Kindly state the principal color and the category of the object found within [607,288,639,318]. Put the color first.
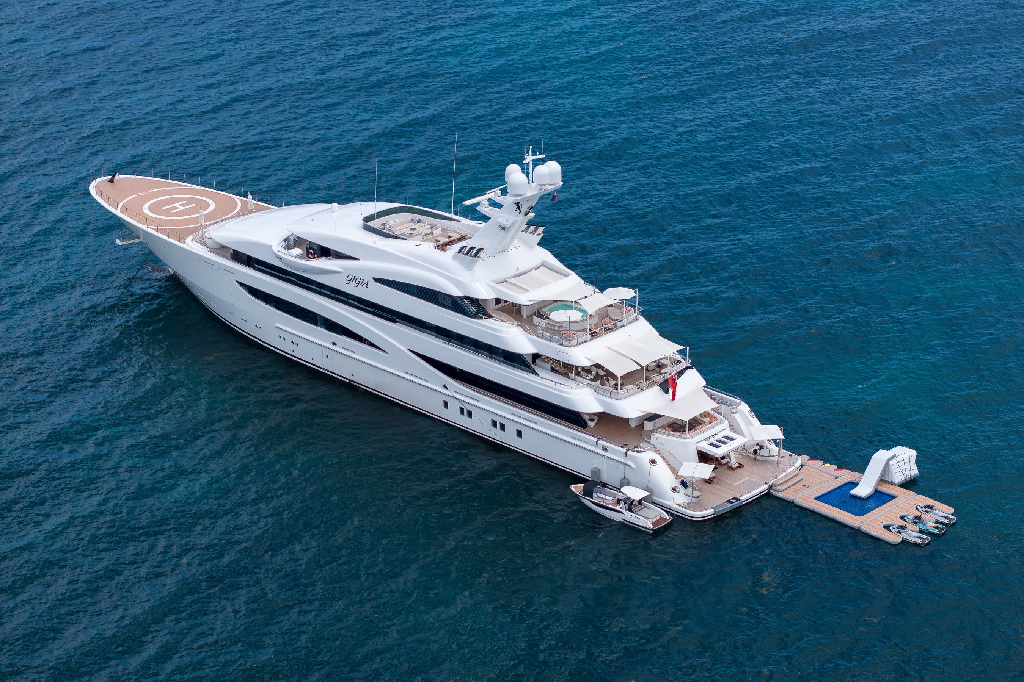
white umbrella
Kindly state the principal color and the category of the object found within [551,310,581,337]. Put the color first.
white umbrella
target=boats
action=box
[919,504,956,527]
[907,513,944,537]
[92,133,797,521]
[892,525,929,548]
[569,480,676,539]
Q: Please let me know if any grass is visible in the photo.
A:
No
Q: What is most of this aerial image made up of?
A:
water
